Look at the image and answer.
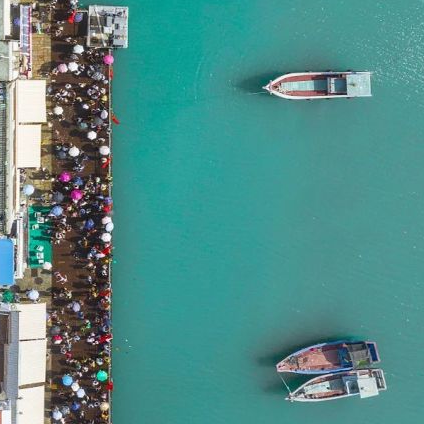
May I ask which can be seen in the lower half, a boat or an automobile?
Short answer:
boat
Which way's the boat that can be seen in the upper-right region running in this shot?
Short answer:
from left to right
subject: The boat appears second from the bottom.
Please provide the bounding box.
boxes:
[274,333,379,373]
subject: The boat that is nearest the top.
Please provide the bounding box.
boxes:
[261,67,372,99]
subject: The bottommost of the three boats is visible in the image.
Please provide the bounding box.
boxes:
[282,363,386,403]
